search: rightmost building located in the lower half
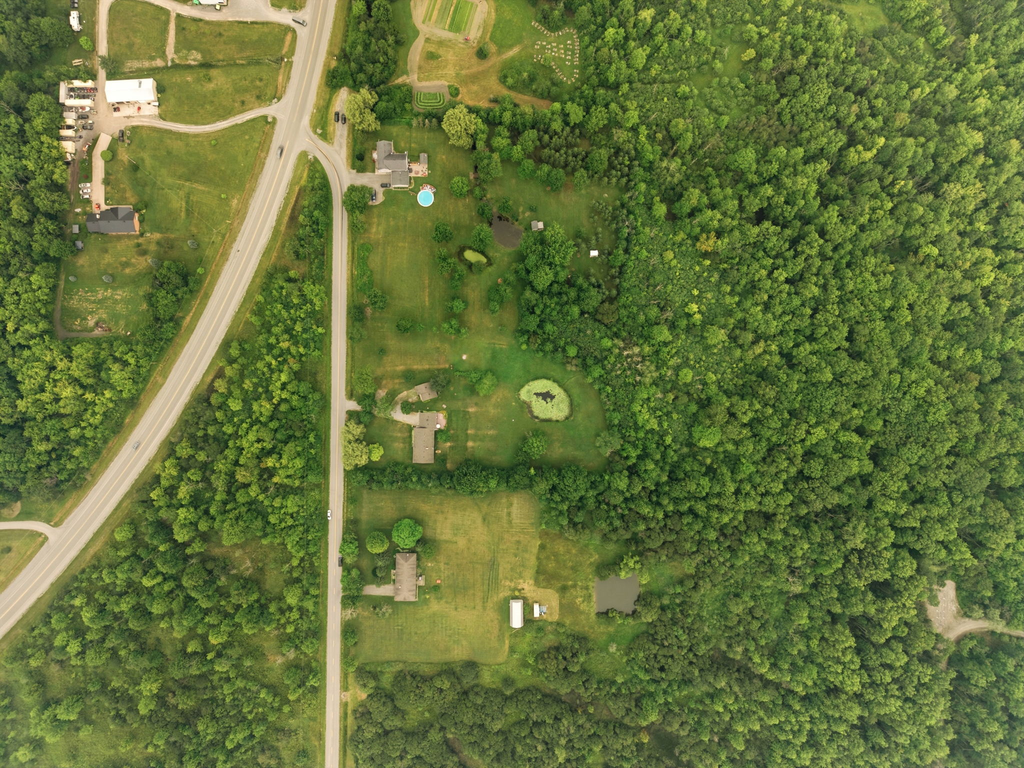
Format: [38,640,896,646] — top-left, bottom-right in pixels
[510,598,523,630]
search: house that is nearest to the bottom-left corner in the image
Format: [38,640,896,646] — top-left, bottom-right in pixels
[392,554,416,602]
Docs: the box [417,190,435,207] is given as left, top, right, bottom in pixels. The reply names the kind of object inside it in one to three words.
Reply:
swimming pool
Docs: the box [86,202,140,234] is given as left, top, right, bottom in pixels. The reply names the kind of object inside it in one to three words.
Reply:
house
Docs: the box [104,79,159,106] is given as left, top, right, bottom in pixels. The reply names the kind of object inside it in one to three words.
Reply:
building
